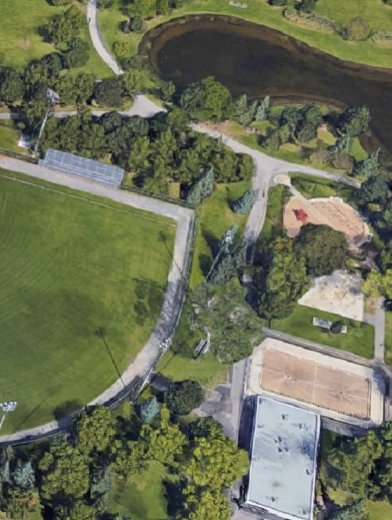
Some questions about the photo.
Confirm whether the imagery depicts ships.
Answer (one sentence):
No, I find no ship anywhere in the image.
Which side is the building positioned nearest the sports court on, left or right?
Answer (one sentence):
It is on the right.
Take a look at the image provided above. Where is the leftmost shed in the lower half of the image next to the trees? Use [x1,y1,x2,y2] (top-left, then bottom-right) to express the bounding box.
[147,370,173,394]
